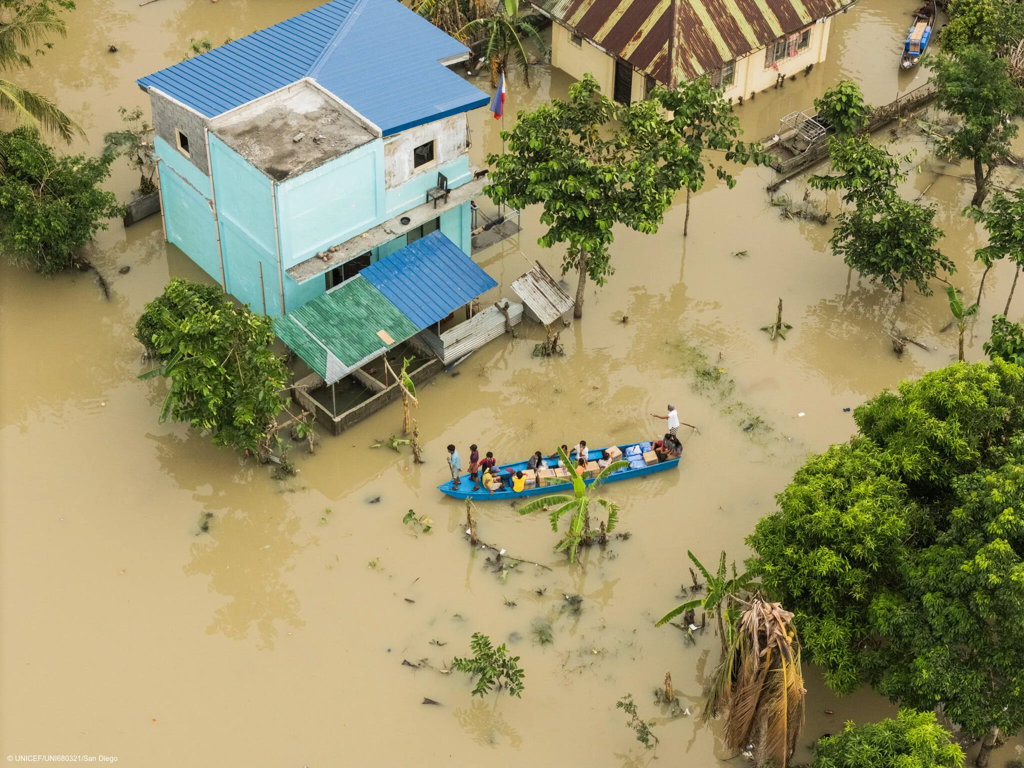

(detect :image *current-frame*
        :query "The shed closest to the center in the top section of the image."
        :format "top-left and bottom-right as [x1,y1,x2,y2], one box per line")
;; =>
[510,252,575,345]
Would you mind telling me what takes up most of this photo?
water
